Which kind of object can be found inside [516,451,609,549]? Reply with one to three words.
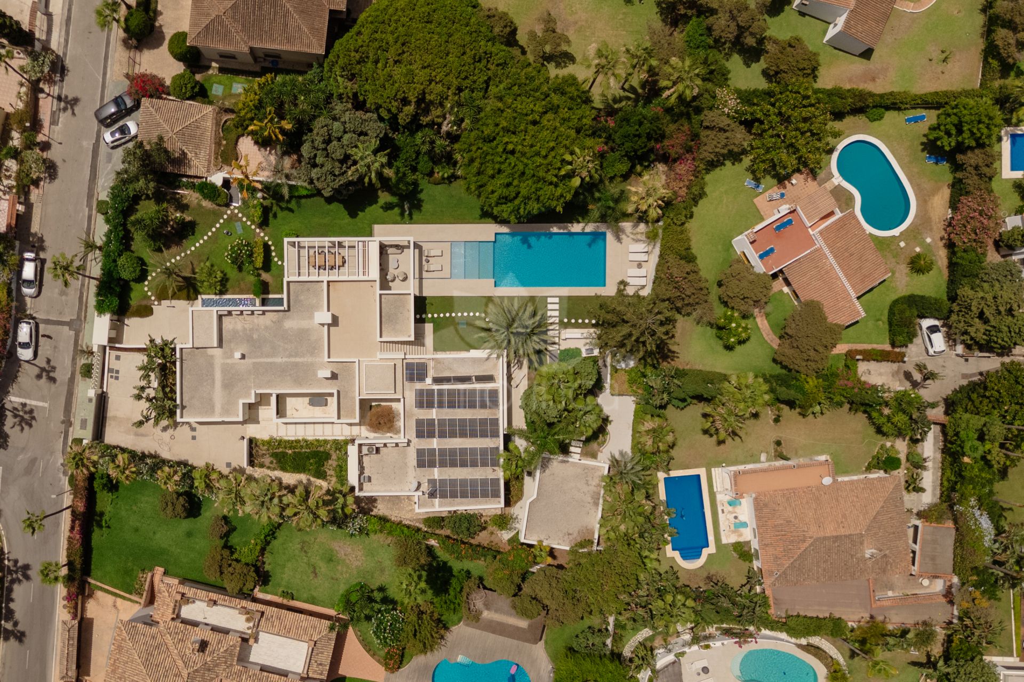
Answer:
building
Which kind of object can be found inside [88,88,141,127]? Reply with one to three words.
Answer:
car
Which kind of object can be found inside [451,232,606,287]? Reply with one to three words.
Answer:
swimming pool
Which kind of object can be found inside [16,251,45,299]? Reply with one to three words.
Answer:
car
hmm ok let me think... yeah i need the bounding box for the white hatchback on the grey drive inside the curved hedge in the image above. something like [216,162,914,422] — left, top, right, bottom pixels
[917,319,945,359]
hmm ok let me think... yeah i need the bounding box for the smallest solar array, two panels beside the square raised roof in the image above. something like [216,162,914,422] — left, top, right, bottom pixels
[406,362,426,382]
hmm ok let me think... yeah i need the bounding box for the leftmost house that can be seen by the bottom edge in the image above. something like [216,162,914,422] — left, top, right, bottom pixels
[105,567,339,682]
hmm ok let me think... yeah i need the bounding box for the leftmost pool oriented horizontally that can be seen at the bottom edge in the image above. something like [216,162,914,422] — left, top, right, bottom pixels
[433,659,531,682]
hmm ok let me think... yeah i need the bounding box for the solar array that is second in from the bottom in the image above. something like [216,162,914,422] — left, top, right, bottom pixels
[417,448,499,468]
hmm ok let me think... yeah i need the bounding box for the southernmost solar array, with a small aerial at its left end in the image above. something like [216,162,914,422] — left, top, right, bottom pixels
[428,479,499,498]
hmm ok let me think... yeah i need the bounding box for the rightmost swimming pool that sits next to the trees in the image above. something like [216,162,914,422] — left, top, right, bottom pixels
[1001,126,1024,179]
